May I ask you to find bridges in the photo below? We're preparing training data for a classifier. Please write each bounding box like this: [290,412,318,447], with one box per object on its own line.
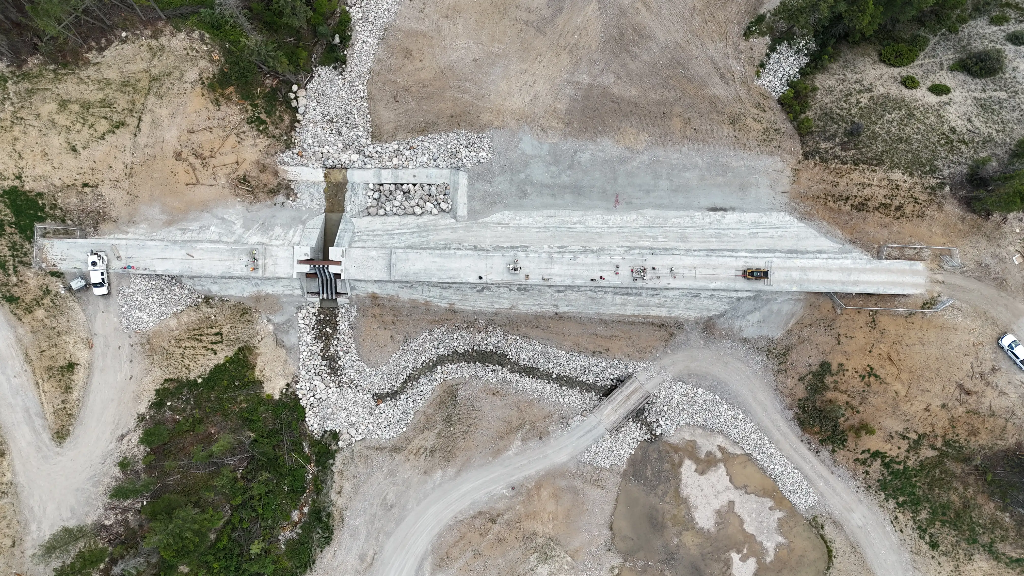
[591,374,652,432]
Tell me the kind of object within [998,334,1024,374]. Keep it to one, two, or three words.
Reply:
truck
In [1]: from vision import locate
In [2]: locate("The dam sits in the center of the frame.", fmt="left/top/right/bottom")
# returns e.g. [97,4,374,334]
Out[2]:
[40,209,926,320]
